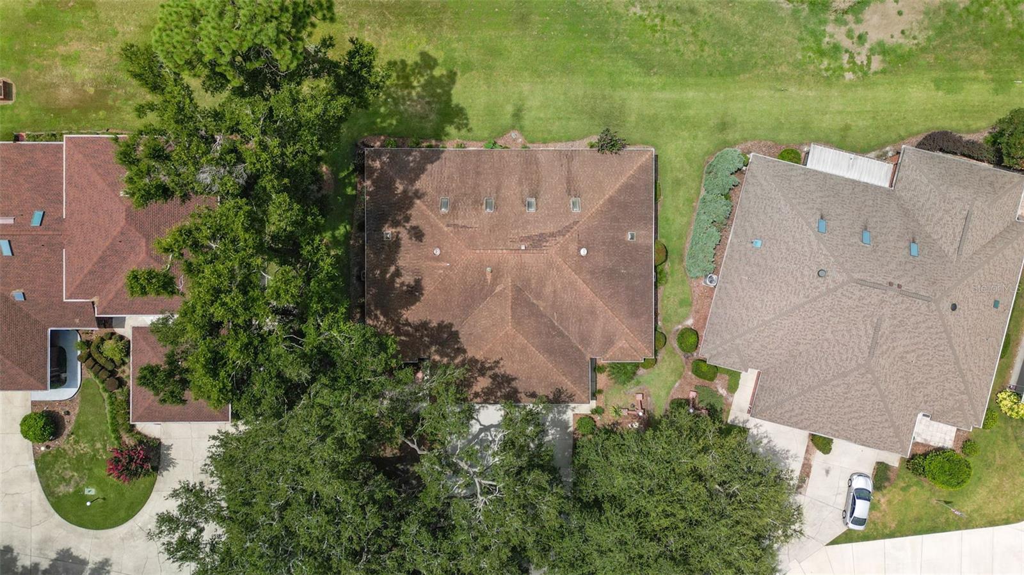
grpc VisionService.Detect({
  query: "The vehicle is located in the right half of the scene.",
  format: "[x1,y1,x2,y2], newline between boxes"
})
[842,473,876,532]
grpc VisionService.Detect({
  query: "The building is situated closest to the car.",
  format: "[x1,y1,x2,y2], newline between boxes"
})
[698,140,1024,458]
